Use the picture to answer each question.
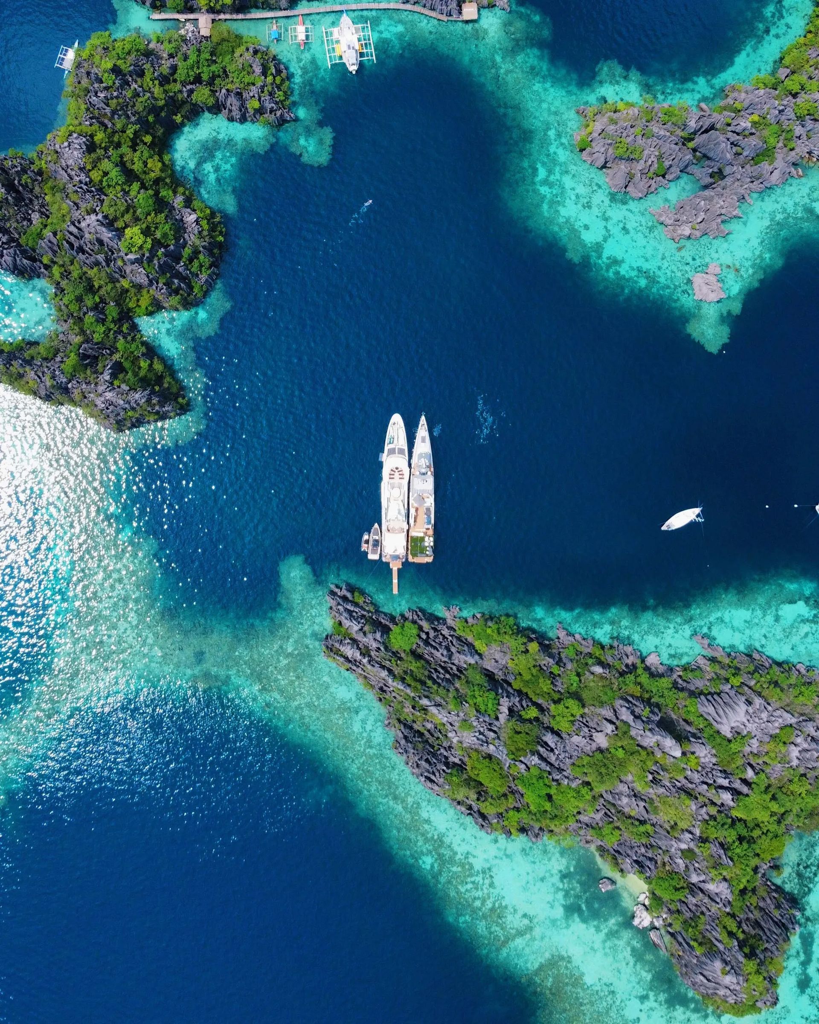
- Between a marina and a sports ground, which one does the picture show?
marina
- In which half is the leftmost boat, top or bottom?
top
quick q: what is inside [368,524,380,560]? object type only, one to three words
boat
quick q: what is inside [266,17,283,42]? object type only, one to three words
boat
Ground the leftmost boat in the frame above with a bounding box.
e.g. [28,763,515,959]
[54,37,78,77]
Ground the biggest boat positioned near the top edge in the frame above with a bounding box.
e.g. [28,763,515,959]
[322,2,376,74]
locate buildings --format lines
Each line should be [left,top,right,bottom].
[462,3,478,25]
[199,15,212,36]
